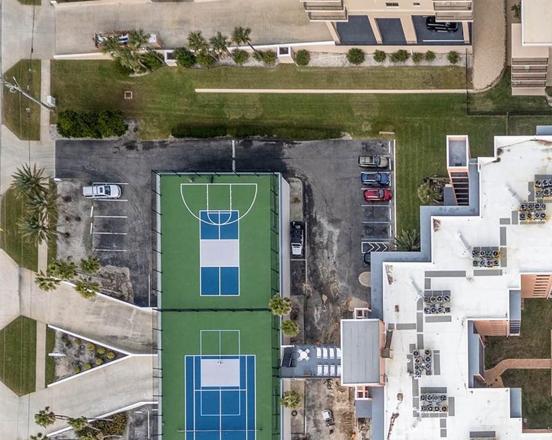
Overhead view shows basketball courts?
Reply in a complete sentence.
Yes, this view includes a basketball court.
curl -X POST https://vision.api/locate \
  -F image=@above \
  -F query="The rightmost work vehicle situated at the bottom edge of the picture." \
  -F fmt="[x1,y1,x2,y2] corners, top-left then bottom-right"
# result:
[319,410,337,433]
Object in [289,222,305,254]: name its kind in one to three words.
car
